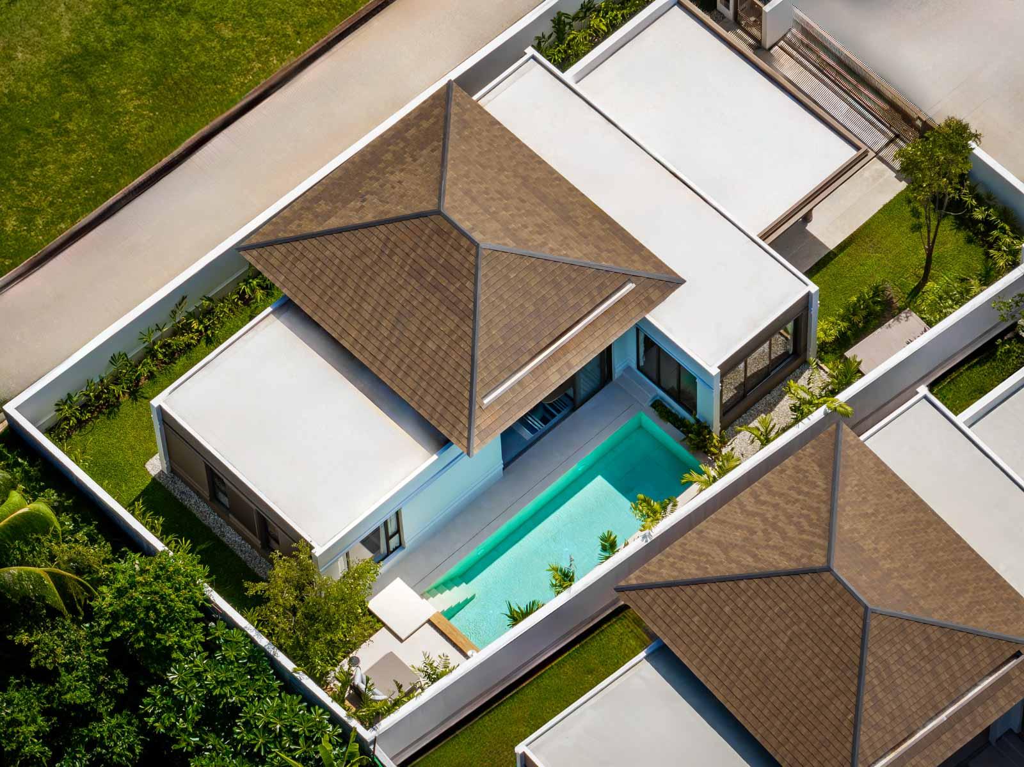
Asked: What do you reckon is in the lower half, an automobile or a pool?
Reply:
pool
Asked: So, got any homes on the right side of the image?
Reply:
Yes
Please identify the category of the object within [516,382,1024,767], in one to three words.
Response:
house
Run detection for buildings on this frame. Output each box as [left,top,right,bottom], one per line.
[516,382,1024,767]
[150,46,818,617]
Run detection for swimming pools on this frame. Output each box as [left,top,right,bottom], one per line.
[421,412,706,650]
